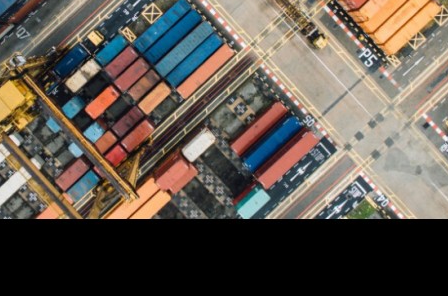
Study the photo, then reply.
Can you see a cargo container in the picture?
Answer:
Yes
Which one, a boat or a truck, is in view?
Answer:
truck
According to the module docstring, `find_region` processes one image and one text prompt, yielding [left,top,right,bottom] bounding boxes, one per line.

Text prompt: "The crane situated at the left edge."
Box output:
[0,41,151,243]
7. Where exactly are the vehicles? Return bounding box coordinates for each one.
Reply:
[81,27,106,53]
[279,0,327,45]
